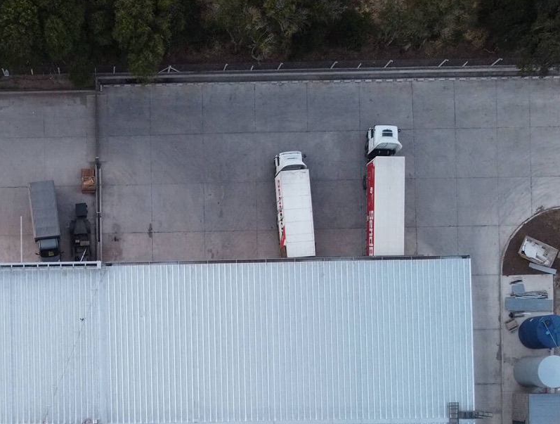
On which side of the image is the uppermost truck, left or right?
right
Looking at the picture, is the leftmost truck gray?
Yes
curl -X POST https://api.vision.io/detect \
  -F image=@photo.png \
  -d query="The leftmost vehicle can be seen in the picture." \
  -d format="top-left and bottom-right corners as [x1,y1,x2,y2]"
[29,178,66,263]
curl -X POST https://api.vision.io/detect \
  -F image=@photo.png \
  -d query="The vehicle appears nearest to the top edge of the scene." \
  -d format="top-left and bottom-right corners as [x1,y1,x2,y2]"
[366,124,403,165]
